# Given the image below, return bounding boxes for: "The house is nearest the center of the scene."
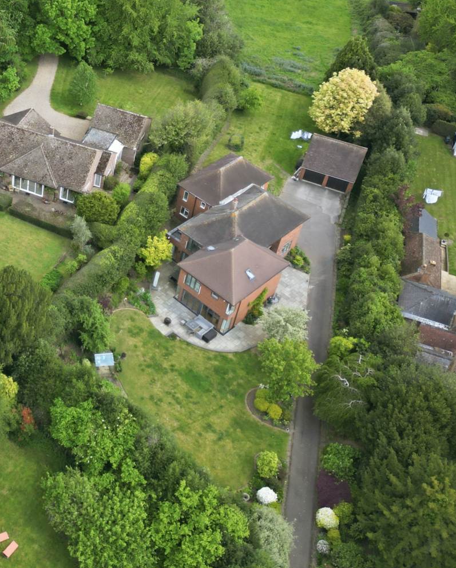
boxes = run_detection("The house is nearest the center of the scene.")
[167,154,315,333]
